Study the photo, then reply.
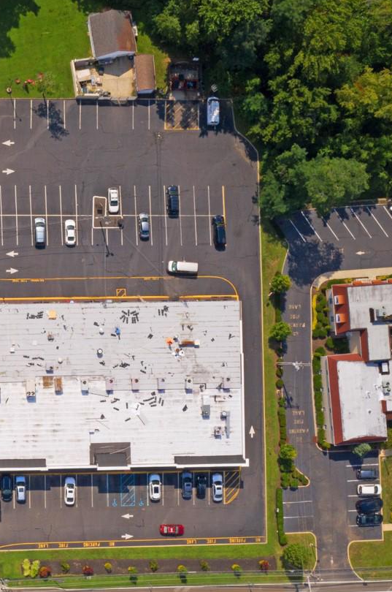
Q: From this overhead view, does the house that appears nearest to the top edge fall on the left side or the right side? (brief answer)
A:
left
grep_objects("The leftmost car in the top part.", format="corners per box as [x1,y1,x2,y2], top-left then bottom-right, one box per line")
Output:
[33,217,46,248]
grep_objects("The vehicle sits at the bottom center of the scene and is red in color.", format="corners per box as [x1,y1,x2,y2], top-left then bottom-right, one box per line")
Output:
[158,524,185,538]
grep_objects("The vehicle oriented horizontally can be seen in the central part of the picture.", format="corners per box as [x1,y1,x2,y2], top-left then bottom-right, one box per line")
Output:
[167,261,200,274]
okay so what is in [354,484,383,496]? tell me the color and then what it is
white vehicle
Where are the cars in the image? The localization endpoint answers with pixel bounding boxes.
[212,216,226,248]
[33,217,46,248]
[179,472,194,500]
[353,499,383,513]
[0,475,13,502]
[194,473,208,498]
[14,475,26,502]
[148,474,162,502]
[158,524,185,538]
[166,184,180,216]
[107,186,121,213]
[64,476,77,505]
[354,484,383,496]
[353,513,384,527]
[138,212,150,241]
[210,473,224,501]
[354,467,378,480]
[64,218,77,245]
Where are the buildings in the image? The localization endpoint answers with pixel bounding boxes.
[131,53,155,96]
[0,300,252,475]
[319,277,392,446]
[86,8,142,61]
